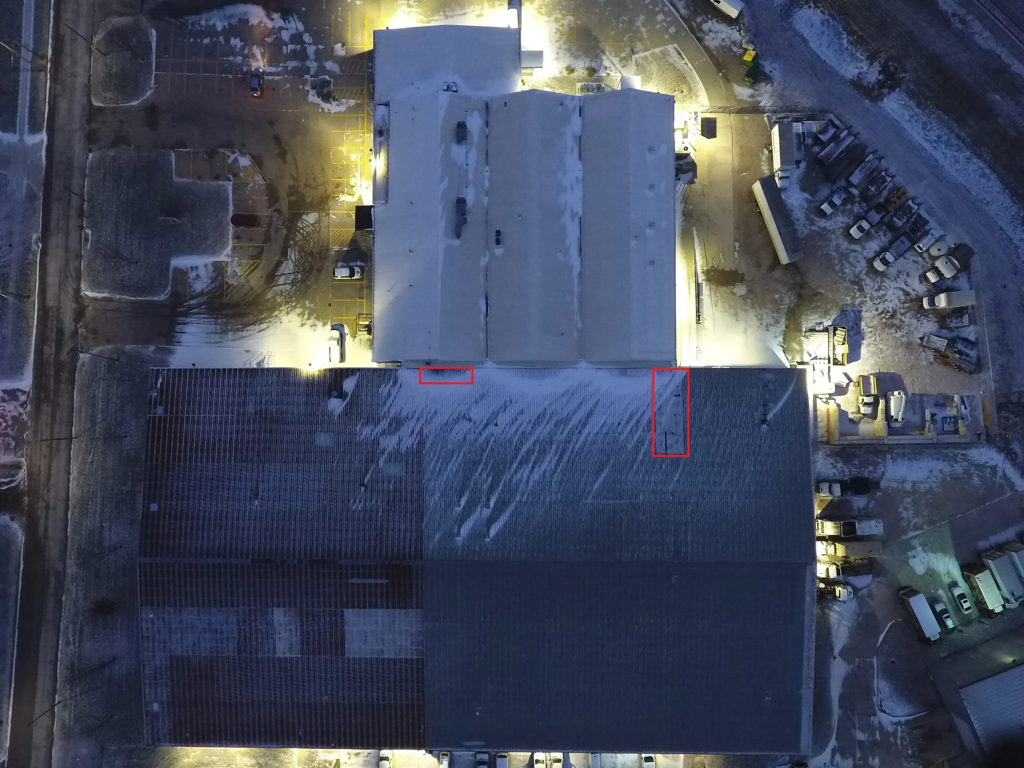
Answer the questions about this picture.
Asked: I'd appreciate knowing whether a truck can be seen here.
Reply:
Yes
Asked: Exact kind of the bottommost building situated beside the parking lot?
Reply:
warehouse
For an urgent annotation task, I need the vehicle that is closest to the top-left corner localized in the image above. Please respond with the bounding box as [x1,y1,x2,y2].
[248,69,263,99]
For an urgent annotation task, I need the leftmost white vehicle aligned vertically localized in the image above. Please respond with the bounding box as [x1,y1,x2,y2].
[329,329,343,363]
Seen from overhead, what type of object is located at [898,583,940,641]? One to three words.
vehicle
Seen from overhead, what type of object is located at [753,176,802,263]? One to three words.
trailer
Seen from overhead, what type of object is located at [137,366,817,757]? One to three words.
warehouse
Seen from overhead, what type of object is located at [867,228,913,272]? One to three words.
truck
